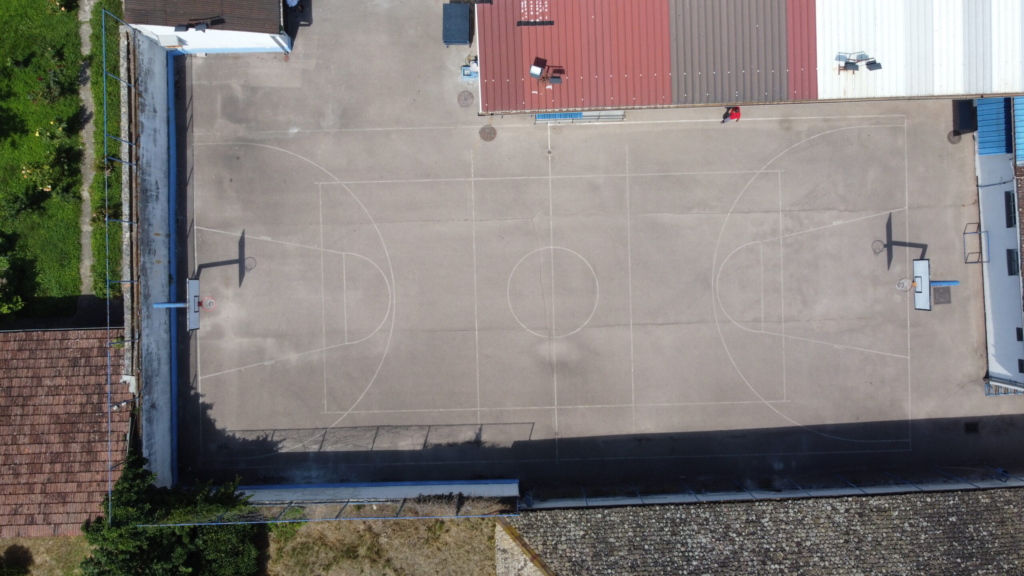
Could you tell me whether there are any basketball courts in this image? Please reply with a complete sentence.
Yes, you can see a basketball court in this photo.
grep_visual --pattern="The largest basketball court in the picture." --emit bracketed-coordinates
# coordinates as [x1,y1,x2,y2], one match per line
[192,115,970,470]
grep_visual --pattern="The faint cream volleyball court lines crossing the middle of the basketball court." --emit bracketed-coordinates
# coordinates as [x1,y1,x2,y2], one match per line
[315,145,790,432]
